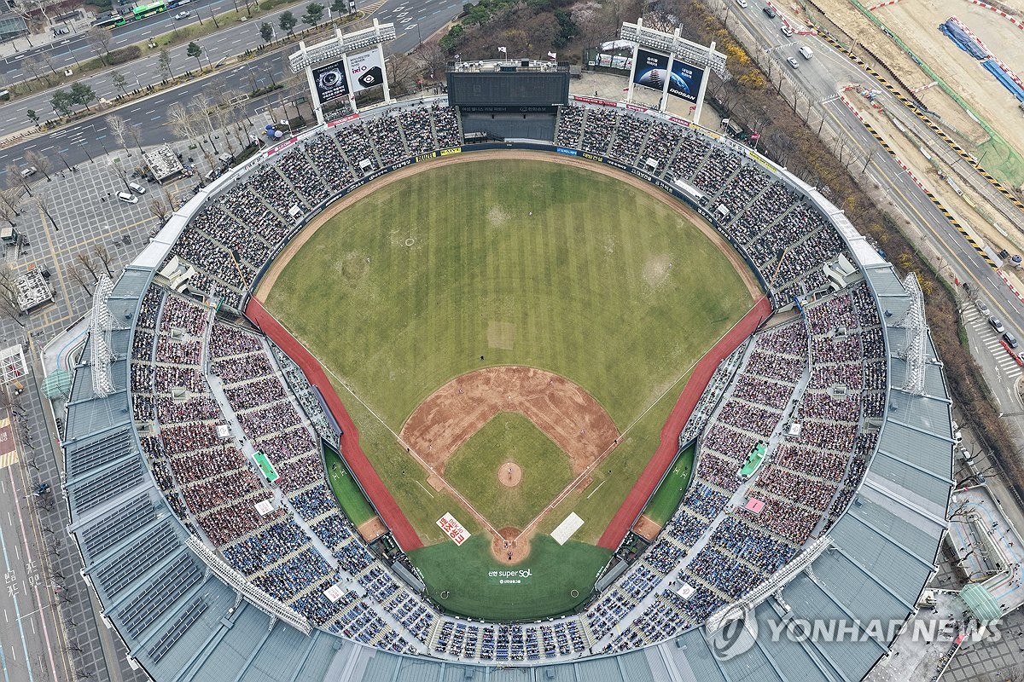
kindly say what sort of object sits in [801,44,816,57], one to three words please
vehicle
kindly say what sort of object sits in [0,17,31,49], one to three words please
building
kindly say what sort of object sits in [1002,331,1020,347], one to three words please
car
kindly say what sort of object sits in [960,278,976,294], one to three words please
car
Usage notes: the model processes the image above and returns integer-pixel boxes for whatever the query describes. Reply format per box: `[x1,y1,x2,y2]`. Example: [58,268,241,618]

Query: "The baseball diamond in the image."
[247,149,772,621]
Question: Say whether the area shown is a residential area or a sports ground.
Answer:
sports ground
